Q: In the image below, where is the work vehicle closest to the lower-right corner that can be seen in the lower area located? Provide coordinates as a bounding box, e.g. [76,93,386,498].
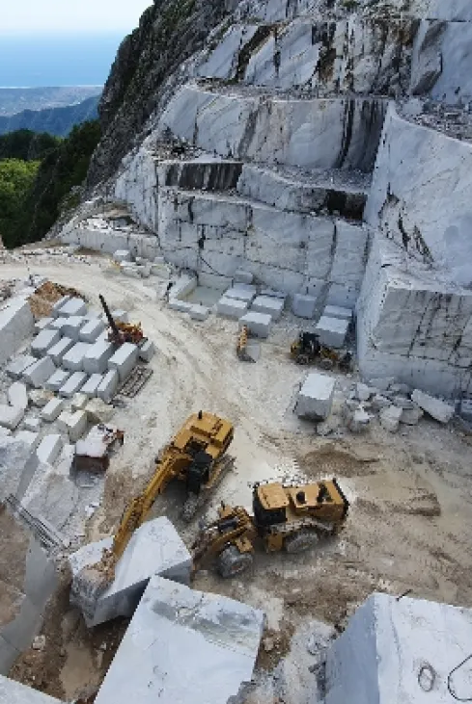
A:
[191,472,355,592]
